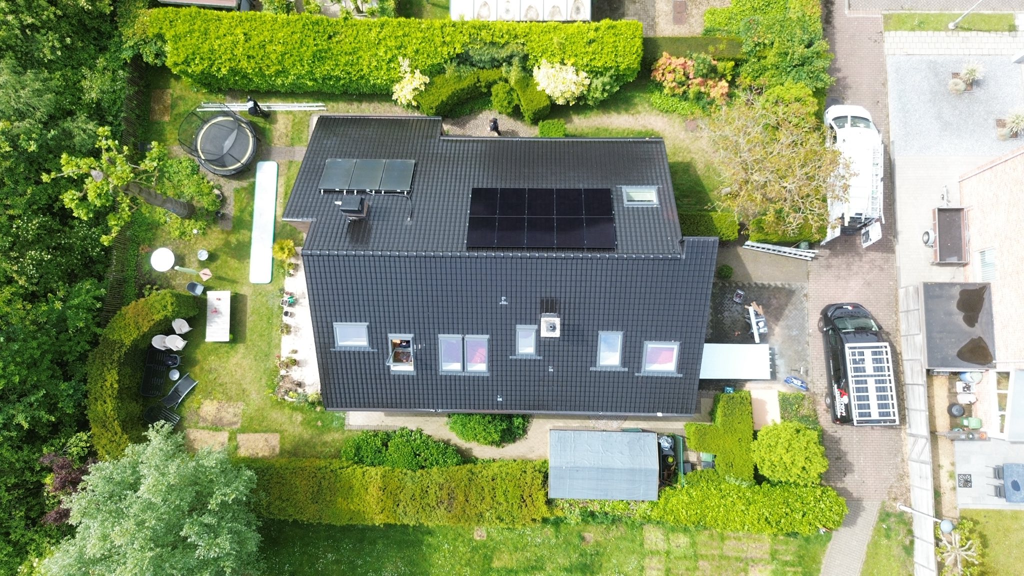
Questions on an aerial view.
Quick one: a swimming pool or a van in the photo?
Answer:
van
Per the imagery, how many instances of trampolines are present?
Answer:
1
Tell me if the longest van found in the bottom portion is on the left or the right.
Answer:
right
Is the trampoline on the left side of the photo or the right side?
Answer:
left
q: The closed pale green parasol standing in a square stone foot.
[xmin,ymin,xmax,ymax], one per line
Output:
[177,265,212,281]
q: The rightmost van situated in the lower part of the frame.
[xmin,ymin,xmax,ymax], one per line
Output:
[820,305,895,434]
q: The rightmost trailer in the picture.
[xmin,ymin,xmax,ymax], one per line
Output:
[929,185,980,257]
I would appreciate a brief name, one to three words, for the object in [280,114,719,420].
house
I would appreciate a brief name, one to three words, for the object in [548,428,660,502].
shed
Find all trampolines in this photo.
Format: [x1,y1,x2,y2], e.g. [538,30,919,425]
[179,103,263,179]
